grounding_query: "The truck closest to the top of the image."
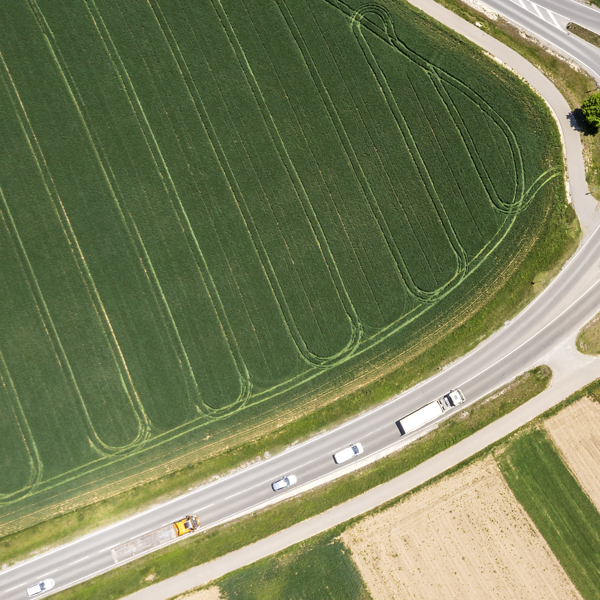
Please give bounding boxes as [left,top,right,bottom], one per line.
[399,388,467,433]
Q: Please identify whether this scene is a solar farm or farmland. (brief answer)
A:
farmland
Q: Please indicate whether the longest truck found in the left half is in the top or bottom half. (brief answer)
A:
bottom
